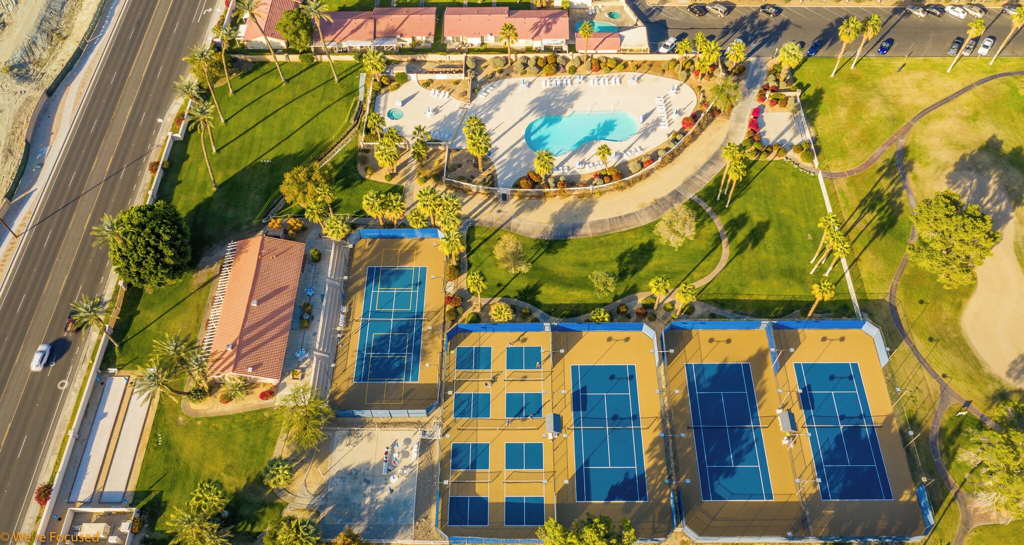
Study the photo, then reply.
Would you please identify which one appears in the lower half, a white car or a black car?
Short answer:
white car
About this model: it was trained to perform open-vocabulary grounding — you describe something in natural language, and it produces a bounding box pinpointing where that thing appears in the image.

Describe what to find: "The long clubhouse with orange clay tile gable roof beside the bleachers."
[206,235,305,383]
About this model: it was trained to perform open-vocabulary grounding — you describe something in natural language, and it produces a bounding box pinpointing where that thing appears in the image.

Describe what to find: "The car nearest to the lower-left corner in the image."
[30,344,50,369]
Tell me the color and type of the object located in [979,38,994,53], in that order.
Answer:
white car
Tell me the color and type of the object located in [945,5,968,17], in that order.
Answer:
white vehicle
